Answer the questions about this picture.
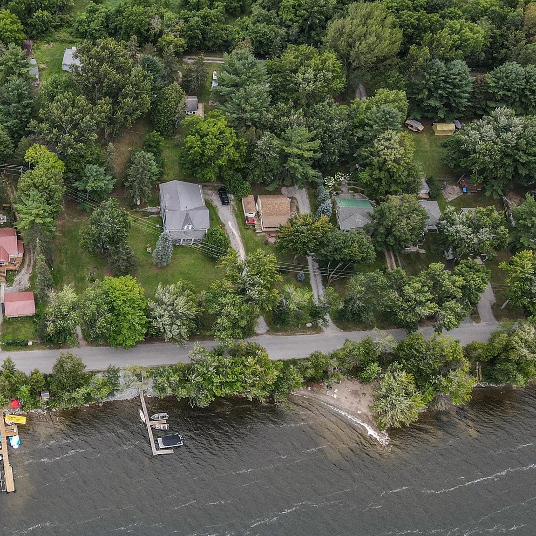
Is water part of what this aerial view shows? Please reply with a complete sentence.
Yes, water shows up in the scene.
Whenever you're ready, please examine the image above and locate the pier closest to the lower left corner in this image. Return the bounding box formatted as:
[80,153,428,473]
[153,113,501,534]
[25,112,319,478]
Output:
[0,415,19,492]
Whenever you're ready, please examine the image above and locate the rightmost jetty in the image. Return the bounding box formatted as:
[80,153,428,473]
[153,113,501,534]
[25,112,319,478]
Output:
[140,390,174,455]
